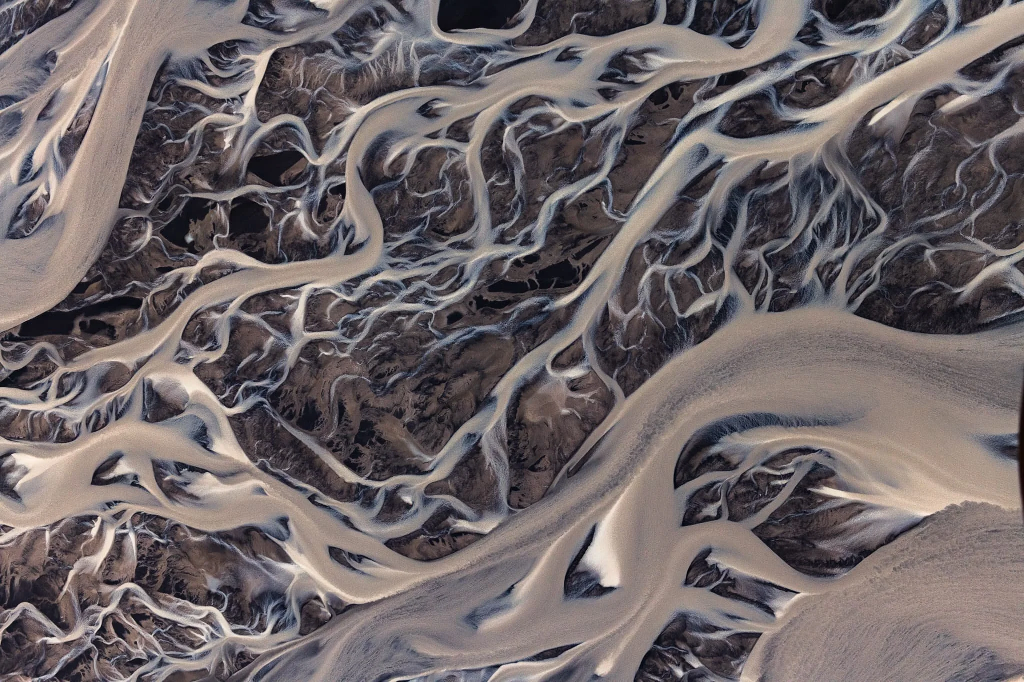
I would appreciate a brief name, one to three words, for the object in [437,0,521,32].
pond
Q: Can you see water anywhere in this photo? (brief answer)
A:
Yes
